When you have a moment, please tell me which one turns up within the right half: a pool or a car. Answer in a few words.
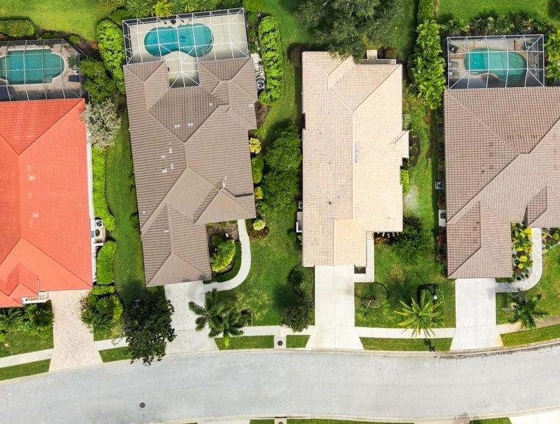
pool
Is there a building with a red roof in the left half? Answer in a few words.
Yes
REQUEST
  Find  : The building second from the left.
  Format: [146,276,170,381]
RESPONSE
[123,56,259,287]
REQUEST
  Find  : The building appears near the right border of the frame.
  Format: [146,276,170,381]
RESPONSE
[443,86,560,279]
